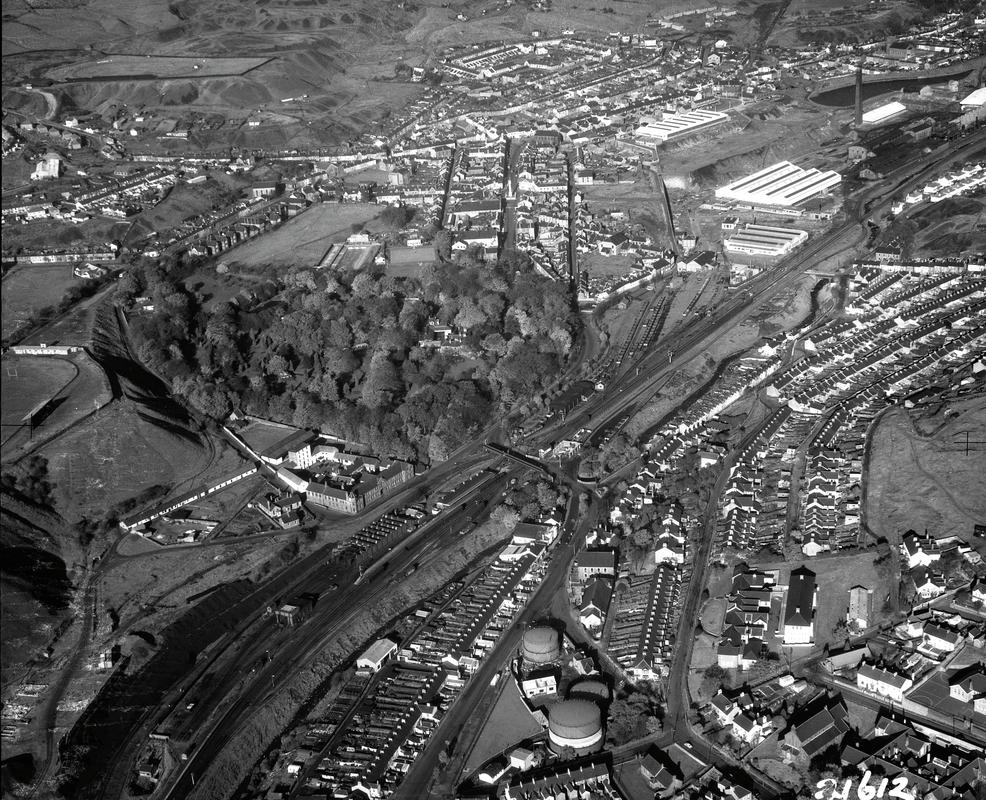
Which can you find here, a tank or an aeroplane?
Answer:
tank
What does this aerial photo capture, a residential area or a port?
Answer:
residential area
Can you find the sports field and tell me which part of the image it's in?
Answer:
left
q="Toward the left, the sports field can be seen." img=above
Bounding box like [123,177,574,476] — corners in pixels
[0,359,66,415]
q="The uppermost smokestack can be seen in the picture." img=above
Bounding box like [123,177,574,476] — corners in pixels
[852,65,865,126]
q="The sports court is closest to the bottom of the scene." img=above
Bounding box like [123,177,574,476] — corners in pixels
[909,672,975,717]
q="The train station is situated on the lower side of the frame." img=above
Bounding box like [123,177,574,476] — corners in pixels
[350,473,501,582]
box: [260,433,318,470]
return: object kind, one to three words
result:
shed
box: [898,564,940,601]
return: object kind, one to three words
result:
house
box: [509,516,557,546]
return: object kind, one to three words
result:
building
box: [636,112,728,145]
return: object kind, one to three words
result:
building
